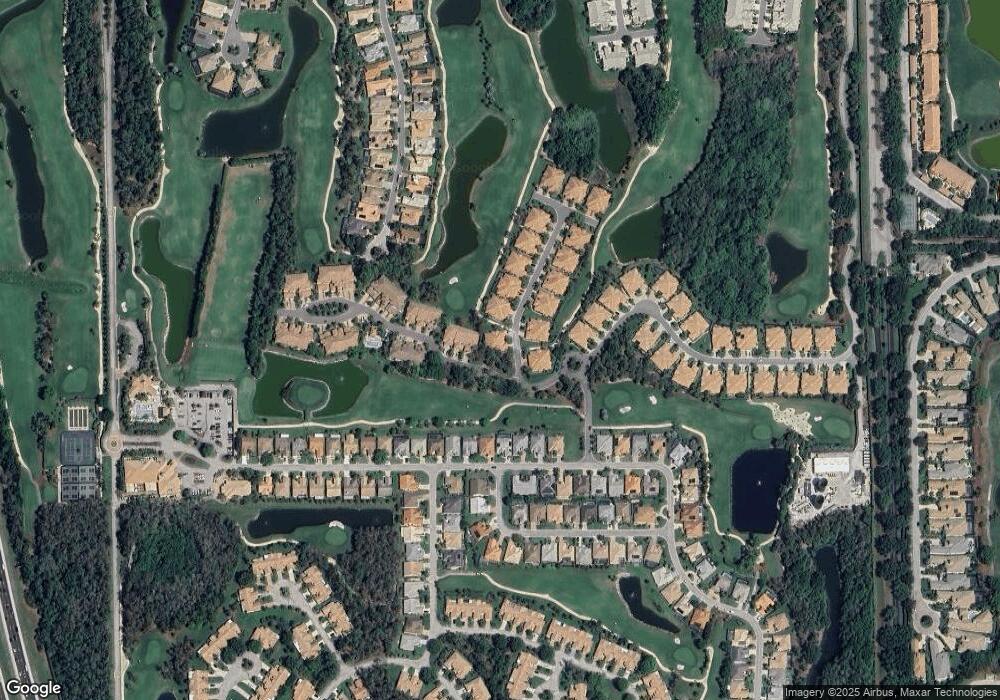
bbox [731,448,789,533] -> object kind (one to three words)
pond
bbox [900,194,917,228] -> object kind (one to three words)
tennis court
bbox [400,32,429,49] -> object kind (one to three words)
house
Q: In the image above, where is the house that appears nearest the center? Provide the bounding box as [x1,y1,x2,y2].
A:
[483,330,508,350]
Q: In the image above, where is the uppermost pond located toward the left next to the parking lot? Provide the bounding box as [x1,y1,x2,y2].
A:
[139,217,195,362]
